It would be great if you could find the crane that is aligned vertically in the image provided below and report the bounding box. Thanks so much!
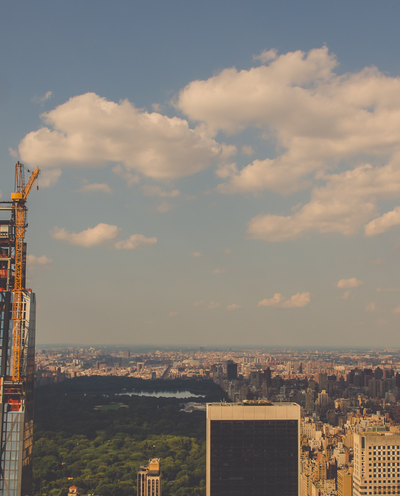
[11,162,40,382]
